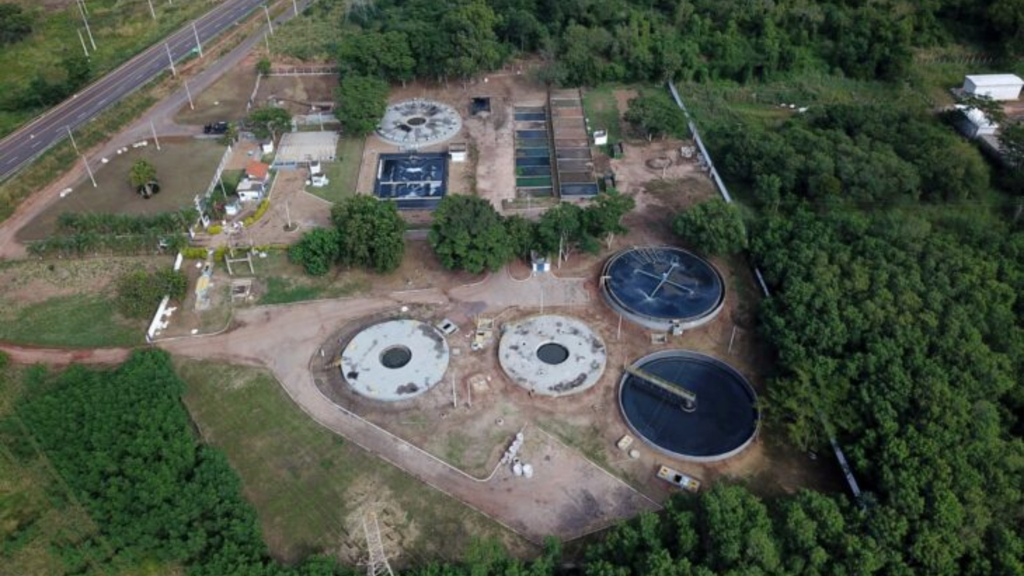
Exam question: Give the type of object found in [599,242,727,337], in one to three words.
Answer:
storage tank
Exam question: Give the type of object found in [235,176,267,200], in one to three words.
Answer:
house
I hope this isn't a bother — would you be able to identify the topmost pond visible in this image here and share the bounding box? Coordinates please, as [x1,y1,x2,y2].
[374,153,448,212]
